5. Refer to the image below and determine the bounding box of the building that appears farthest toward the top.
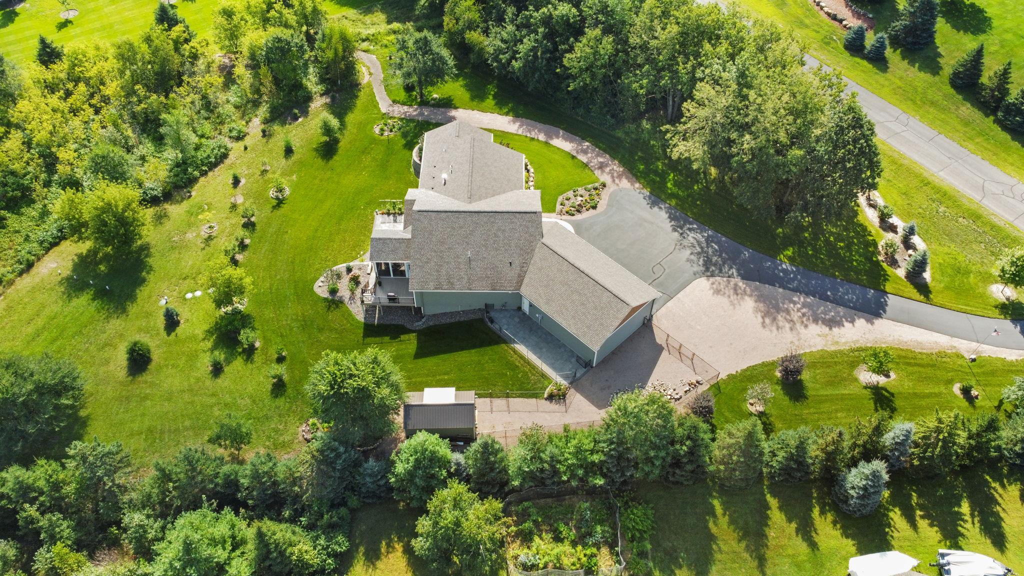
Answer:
[359,119,661,367]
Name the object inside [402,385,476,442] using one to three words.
shed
